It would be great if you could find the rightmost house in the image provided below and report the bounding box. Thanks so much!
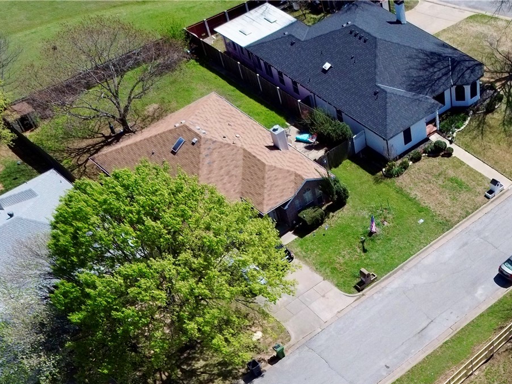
[214,0,488,156]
